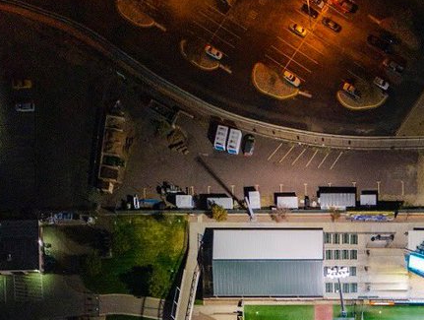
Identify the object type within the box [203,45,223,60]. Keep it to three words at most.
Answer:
car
